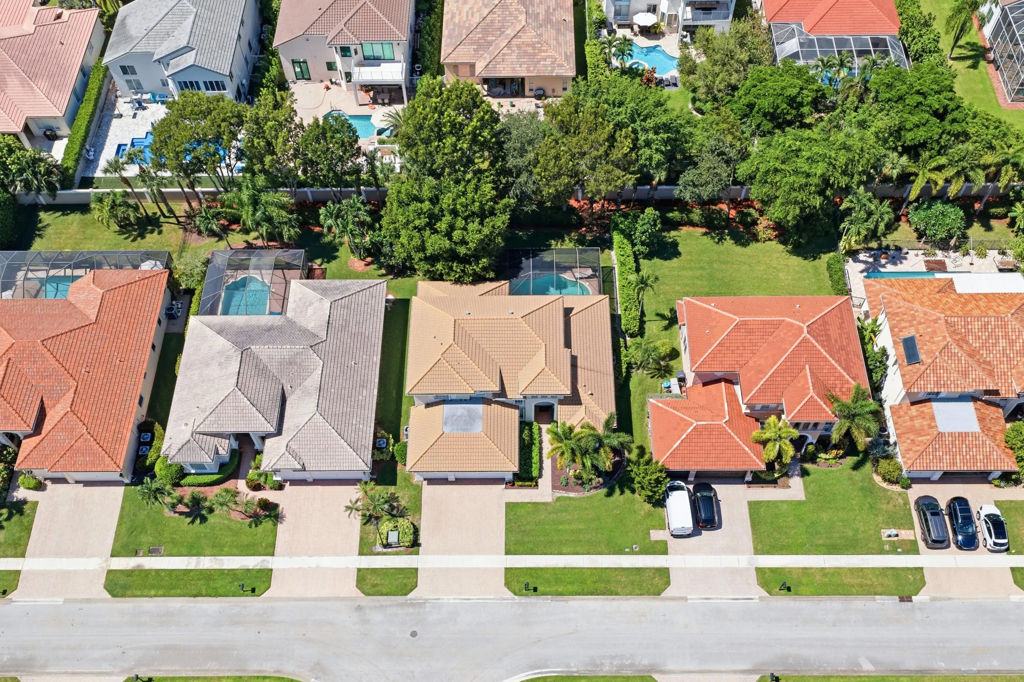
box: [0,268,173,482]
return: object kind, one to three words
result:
house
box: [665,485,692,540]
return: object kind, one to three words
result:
vehicle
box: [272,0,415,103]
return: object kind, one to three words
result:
house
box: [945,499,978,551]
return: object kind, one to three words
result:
car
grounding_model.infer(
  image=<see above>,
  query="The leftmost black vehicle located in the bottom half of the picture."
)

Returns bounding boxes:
[693,484,718,534]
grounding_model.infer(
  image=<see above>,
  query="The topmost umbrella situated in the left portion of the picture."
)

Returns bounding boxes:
[371,113,390,133]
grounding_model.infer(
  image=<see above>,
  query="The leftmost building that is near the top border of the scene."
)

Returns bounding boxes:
[0,0,103,143]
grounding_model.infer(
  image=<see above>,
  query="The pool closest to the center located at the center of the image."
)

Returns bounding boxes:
[509,272,594,295]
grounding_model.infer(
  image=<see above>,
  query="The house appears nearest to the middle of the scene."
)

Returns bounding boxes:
[404,279,618,482]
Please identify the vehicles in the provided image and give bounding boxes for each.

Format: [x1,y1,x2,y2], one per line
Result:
[976,506,1010,555]
[665,485,692,540]
[945,499,978,551]
[693,484,718,534]
[915,498,949,551]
